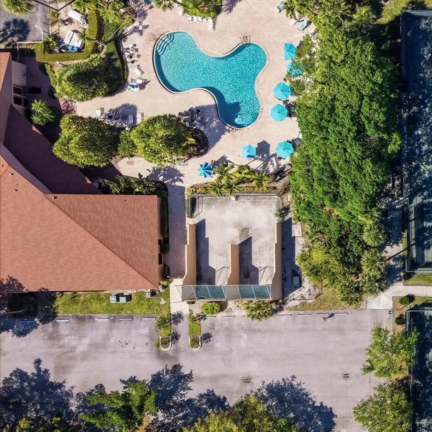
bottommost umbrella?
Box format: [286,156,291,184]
[198,162,215,177]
